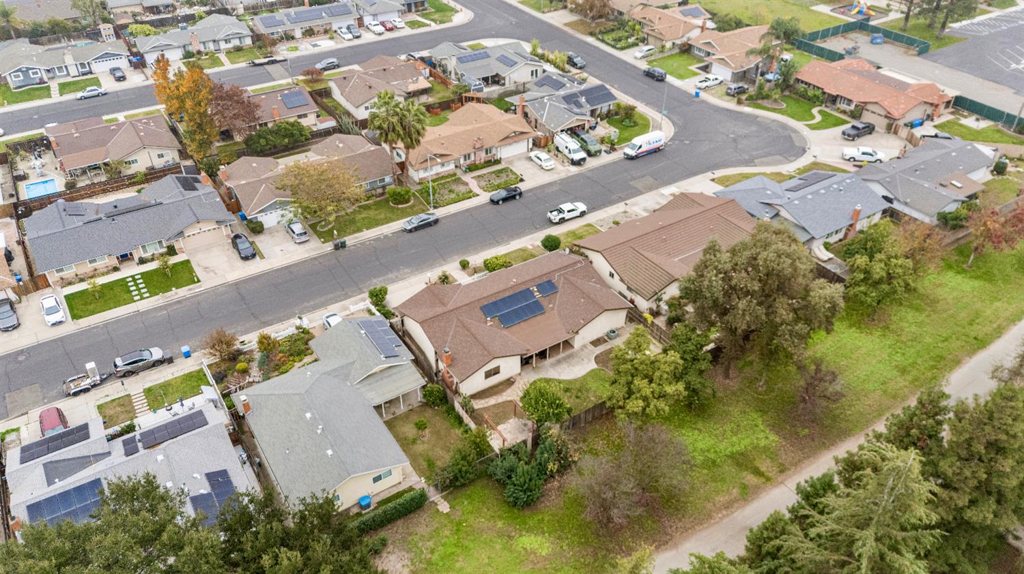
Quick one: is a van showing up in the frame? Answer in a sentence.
Yes, the image includes a van.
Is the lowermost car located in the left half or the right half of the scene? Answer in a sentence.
It is on the left.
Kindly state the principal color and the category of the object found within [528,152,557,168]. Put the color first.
white car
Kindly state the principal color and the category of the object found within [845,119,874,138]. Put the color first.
gray vehicle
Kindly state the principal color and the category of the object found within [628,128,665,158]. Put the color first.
white van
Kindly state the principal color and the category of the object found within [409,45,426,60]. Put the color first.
white car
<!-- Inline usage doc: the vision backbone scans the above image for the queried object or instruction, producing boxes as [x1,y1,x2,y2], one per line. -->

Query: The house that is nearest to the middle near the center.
[396,249,633,395]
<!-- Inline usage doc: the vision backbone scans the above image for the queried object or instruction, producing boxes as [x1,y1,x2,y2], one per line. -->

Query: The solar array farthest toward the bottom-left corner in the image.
[26,478,105,528]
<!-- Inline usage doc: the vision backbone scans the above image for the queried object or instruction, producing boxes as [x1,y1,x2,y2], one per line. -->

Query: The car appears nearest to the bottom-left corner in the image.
[39,408,66,437]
